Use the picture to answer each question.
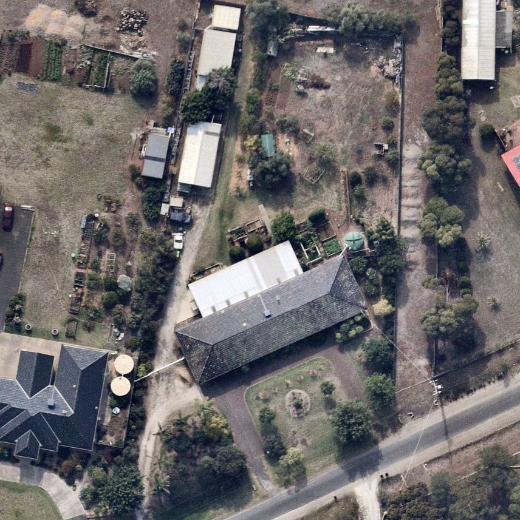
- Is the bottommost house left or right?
left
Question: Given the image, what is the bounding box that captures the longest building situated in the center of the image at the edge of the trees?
[175,241,365,383]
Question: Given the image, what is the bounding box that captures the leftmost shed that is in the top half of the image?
[141,134,170,179]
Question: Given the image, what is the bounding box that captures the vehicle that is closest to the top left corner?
[1,204,15,230]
